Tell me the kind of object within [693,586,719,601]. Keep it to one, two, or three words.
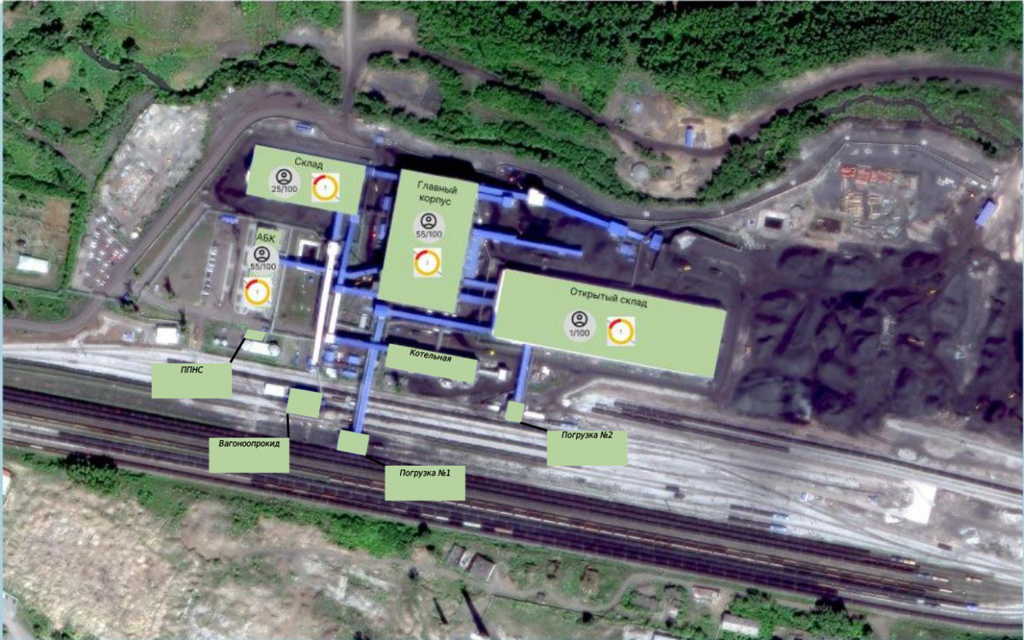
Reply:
house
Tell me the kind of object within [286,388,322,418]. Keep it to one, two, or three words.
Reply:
building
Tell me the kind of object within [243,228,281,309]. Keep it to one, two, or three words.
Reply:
building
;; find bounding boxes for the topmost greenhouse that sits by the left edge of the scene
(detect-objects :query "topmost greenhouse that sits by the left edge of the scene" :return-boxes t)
[17,256,49,273]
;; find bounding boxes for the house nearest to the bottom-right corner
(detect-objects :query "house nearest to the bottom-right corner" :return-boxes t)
[721,611,759,635]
